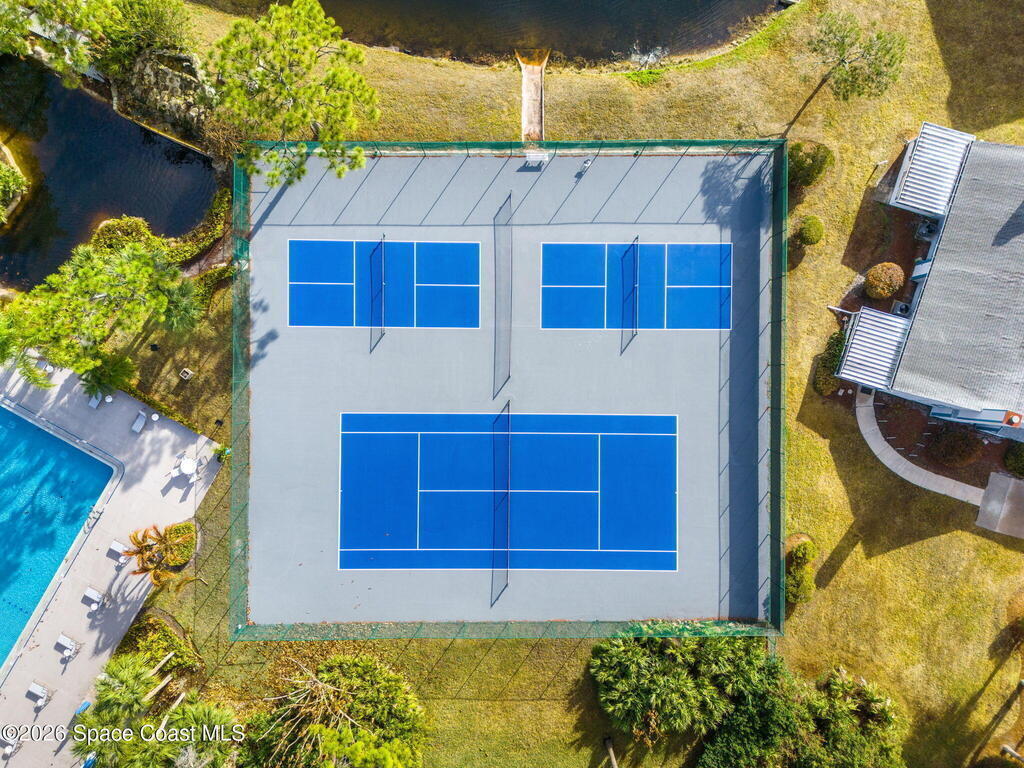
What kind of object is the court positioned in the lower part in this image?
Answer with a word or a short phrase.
tennis court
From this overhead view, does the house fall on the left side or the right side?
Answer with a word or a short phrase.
right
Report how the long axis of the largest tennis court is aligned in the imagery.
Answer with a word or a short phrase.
from side to side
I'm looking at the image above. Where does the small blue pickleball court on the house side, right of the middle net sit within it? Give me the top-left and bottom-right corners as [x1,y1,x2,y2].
[541,242,732,330]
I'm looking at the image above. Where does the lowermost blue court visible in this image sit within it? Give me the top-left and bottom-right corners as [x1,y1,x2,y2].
[339,413,678,572]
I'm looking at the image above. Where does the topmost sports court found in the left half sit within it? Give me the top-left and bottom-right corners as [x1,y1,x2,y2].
[289,240,480,328]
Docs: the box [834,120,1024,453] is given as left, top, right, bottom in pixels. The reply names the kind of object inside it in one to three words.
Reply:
house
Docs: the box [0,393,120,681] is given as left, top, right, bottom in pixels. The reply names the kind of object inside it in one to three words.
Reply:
swimming pool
